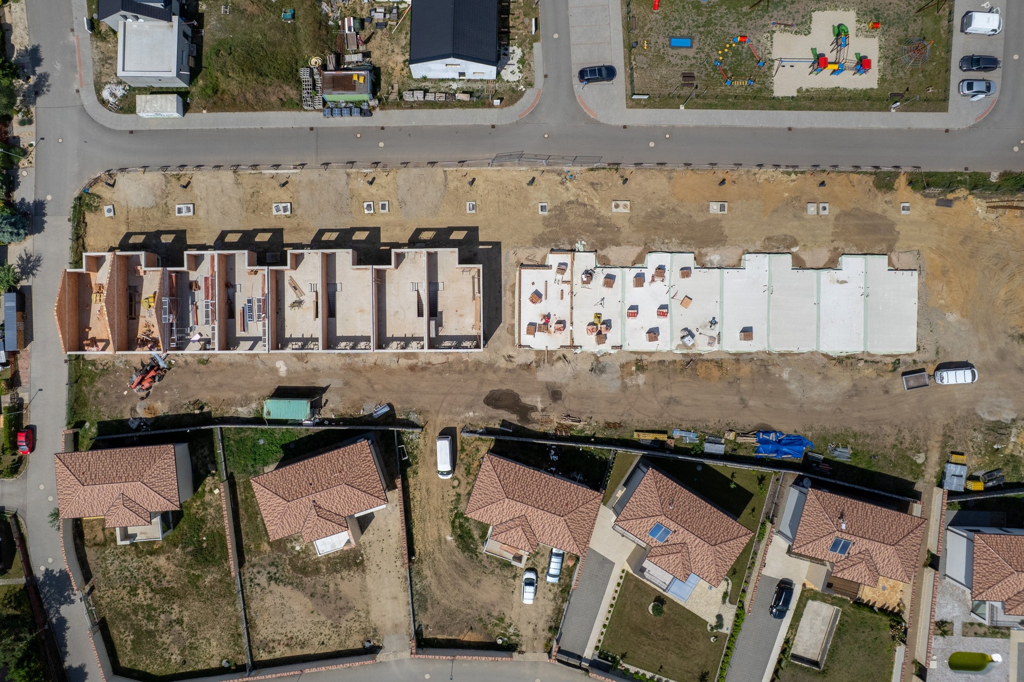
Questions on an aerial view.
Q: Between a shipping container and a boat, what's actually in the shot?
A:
shipping container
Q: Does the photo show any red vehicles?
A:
Yes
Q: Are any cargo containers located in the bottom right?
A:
No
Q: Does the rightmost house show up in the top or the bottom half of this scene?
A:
bottom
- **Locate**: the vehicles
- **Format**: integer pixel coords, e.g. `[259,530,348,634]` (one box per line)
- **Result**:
[578,64,616,84]
[16,426,36,456]
[129,354,170,395]
[930,364,975,383]
[521,567,538,604]
[769,577,794,617]
[956,77,995,96]
[435,434,455,479]
[956,54,996,72]
[545,545,563,581]
[957,8,999,35]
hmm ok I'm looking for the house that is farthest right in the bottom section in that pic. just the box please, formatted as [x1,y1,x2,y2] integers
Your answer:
[947,526,1024,627]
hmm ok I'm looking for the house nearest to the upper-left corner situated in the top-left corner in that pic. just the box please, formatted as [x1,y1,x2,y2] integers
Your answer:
[98,0,190,86]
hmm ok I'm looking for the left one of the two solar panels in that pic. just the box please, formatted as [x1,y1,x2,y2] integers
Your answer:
[648,523,672,543]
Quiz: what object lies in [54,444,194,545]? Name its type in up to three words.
house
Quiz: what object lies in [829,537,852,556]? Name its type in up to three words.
solar panel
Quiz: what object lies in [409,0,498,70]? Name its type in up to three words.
house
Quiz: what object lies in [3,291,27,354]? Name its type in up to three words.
shed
